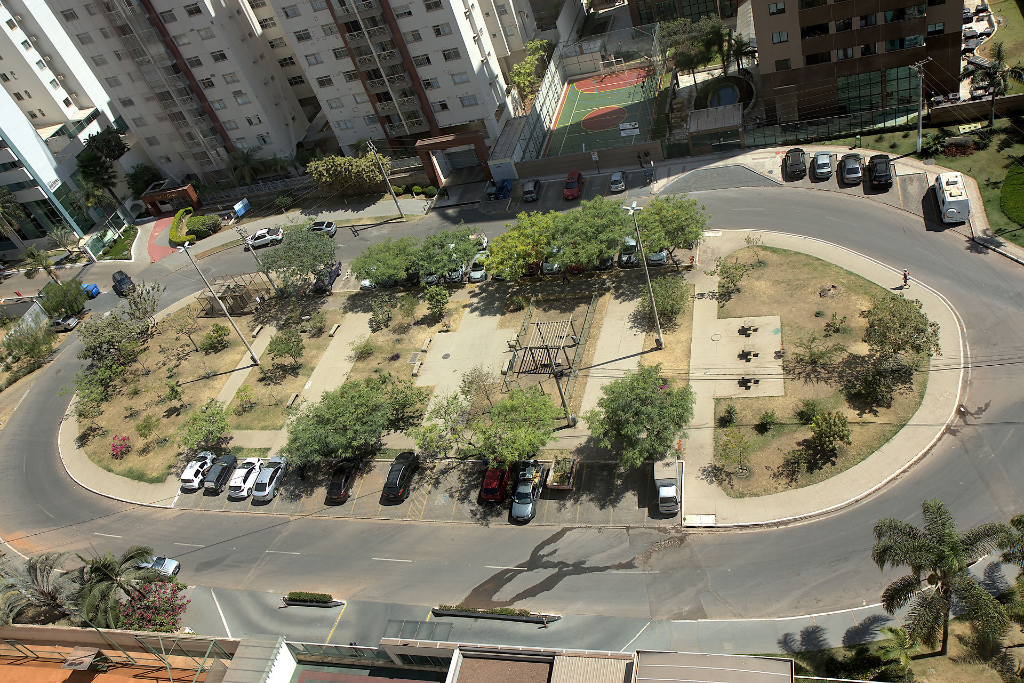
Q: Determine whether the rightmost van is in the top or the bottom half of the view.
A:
top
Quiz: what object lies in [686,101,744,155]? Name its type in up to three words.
building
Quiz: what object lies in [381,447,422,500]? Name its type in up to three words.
car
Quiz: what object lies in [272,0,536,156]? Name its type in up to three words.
building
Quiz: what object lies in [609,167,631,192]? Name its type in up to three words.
car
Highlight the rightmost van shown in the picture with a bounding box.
[930,169,971,223]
